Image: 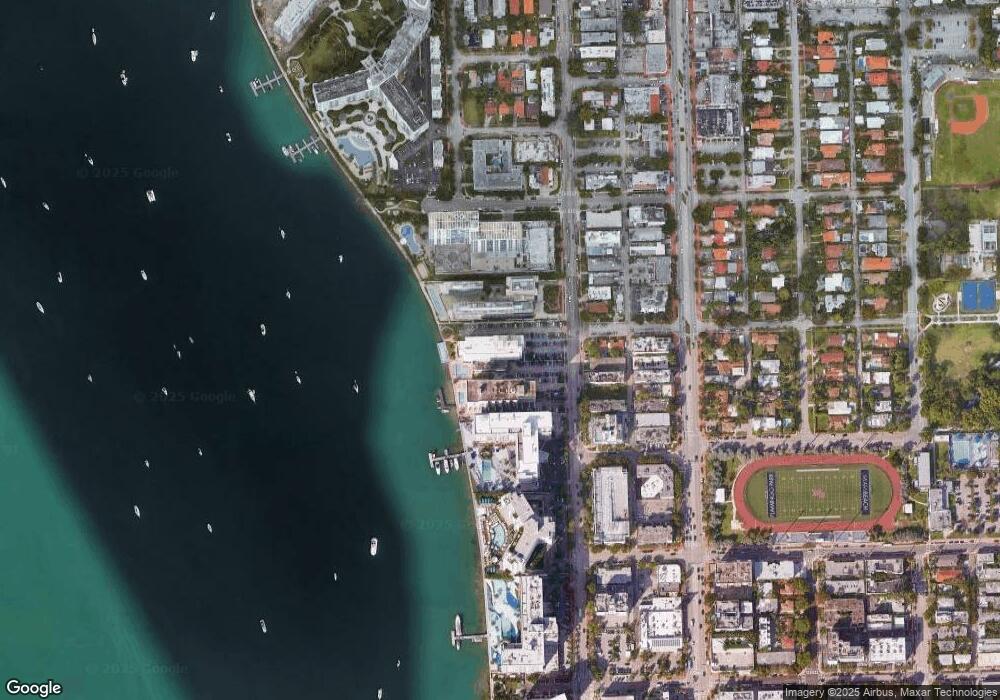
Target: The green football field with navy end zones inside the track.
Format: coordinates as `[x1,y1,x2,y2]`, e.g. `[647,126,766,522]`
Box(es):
[745,464,893,520]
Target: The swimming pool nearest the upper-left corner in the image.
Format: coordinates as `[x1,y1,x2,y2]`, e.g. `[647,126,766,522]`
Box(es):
[336,135,376,168]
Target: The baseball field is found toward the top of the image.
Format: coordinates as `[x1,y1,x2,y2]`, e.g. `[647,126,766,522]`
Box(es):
[933,81,1000,187]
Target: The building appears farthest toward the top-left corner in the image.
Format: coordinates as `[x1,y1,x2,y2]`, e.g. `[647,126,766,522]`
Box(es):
[275,0,325,50]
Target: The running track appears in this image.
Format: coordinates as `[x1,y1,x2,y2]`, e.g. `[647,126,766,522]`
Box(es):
[734,453,904,532]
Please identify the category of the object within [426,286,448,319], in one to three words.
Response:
swimming pool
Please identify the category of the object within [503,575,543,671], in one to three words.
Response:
building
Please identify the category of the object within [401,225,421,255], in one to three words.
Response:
swimming pool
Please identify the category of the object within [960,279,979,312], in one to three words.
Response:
sports court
